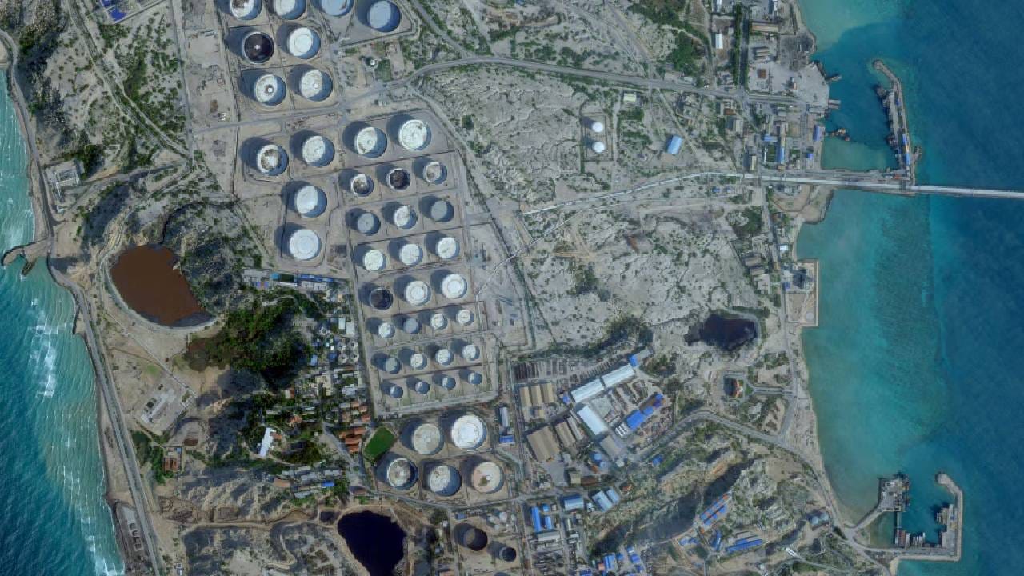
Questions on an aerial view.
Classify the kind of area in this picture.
port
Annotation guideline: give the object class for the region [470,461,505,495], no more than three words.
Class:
storage tank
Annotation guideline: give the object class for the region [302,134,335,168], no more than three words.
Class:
storage tank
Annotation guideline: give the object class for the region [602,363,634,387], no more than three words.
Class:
building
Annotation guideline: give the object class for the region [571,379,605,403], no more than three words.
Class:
building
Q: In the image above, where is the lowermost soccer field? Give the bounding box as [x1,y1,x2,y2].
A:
[362,424,397,458]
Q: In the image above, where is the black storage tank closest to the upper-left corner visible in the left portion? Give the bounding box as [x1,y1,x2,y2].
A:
[242,31,275,64]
